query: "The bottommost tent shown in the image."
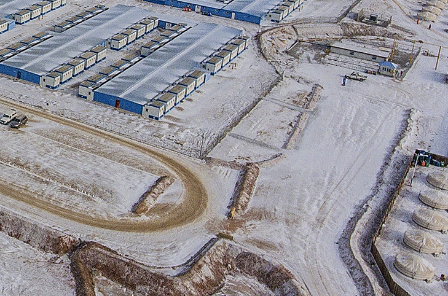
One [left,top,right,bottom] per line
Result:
[390,251,441,284]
